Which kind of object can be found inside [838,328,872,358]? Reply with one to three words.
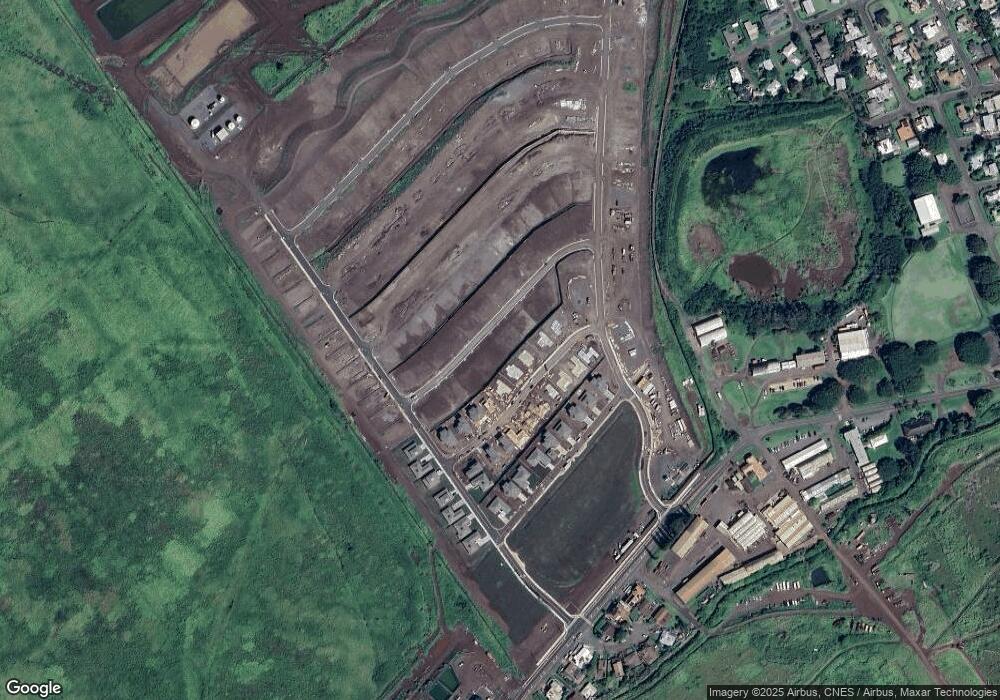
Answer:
building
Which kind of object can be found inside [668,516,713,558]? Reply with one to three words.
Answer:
shed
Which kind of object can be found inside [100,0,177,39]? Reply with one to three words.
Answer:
pond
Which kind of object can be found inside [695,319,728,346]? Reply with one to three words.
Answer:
building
